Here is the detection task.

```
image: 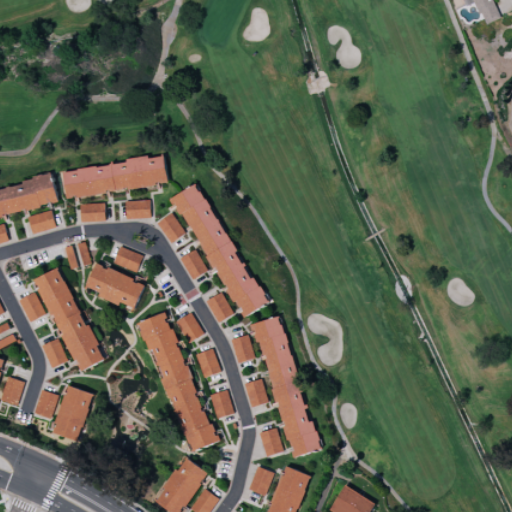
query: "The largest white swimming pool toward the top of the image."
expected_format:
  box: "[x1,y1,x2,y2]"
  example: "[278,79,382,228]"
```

[457,4,485,24]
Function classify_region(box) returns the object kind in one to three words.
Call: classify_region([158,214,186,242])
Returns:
building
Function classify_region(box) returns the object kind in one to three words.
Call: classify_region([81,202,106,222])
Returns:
building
